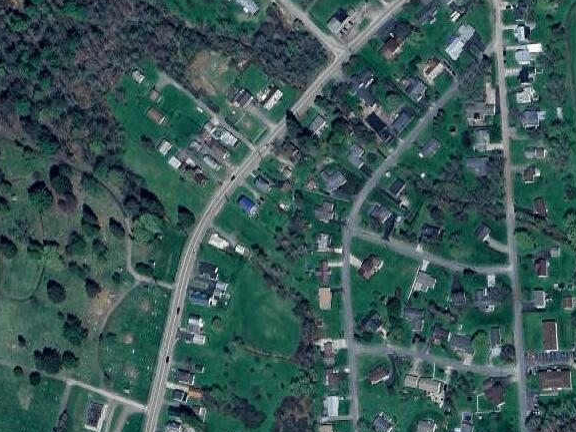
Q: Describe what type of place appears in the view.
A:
residential area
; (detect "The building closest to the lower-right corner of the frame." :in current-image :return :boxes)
[538,369,572,394]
